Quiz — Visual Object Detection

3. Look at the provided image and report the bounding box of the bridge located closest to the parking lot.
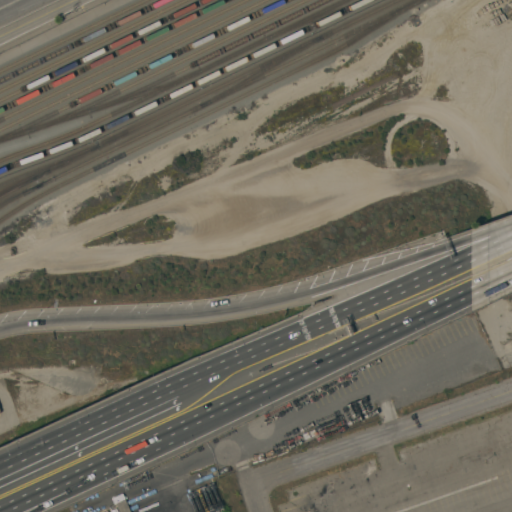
[472,214,512,312]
